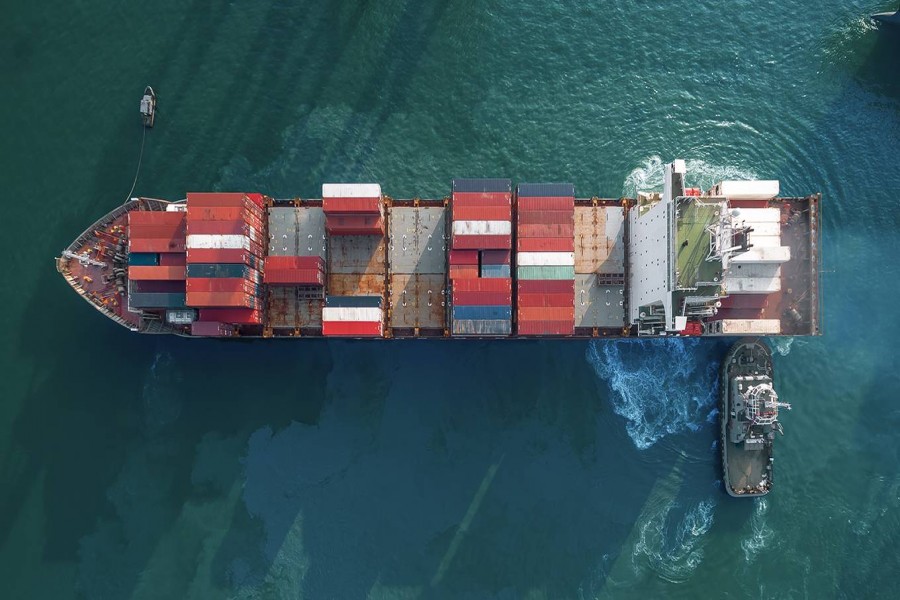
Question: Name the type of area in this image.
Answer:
port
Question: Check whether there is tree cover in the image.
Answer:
No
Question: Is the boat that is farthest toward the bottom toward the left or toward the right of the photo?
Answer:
right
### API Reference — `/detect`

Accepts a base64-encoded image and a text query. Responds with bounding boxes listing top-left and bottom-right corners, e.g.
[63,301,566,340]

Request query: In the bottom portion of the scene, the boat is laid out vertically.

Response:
[721,338,793,499]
